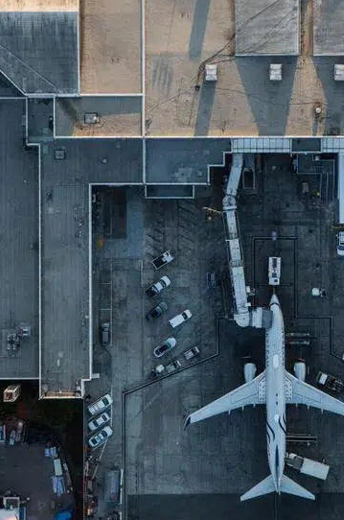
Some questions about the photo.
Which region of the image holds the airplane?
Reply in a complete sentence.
The airplane is in the bottom right part of the image.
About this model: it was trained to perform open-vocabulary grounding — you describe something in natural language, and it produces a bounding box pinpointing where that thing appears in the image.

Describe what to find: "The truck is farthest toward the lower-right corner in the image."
[284,454,329,484]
